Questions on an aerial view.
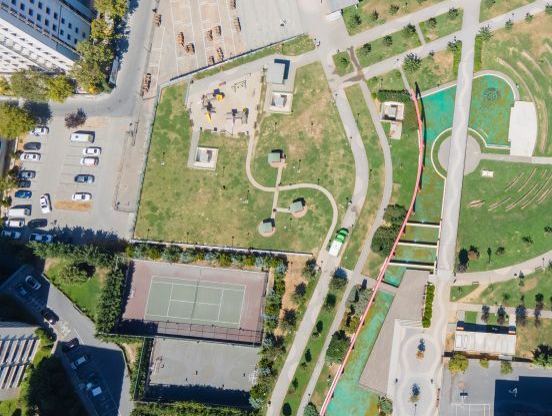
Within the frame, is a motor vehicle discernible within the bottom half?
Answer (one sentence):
Yes, a motor vehicle appears within the bottom half.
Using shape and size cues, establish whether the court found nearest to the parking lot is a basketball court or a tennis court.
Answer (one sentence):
In the photo, the court found nearest to the parking lot shows up as a tennis court.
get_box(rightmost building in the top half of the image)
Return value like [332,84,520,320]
[381,103,404,121]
